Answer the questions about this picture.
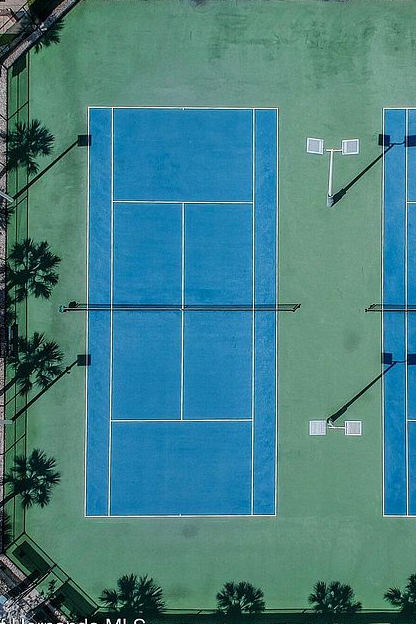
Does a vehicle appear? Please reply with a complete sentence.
No, this view has no vehicle in it.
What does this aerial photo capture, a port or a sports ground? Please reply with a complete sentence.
This looks like a sports ground.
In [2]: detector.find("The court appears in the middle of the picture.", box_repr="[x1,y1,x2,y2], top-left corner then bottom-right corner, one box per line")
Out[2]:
[85,107,276,516]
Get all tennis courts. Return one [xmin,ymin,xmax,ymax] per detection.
[85,107,276,516]
[384,108,416,515]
